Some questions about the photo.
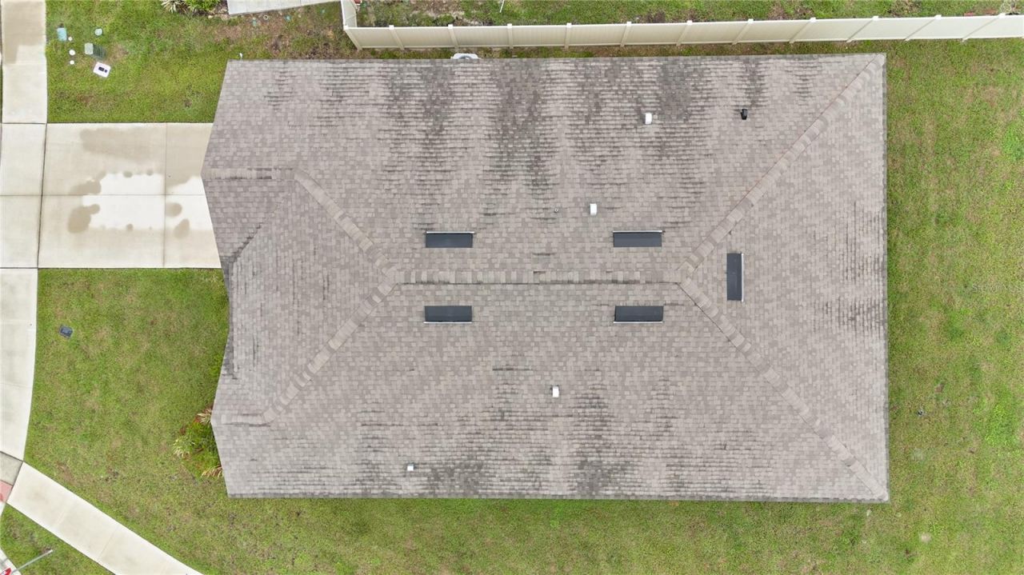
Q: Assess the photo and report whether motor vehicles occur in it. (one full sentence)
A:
No, I can't see a single motor vehicle in this photo.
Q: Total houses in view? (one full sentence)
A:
The photo contains exactly 1 house.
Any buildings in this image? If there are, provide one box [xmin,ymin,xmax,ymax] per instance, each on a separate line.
[201,53,888,503]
